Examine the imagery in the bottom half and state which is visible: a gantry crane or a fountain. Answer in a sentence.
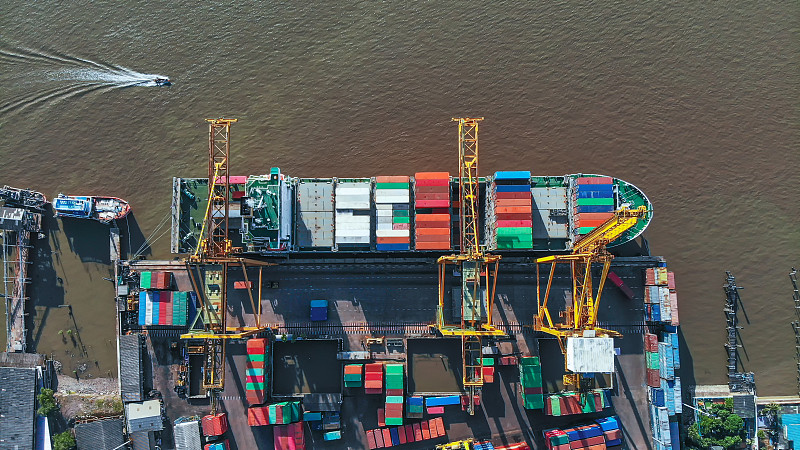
The one visible in the bottom half is a gantry crane.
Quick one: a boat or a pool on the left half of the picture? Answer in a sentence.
Visible on the left half of the picture is a boat.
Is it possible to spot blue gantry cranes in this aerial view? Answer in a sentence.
No, there is no blue gantry crane in the image.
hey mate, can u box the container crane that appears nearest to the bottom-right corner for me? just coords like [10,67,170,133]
[521,212,657,388]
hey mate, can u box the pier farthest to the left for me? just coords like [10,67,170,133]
[1,232,30,352]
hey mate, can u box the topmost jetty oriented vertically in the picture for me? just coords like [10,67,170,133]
[109,228,123,259]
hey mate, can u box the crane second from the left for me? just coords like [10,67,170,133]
[428,114,508,417]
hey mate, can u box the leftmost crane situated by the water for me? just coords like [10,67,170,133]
[181,114,279,417]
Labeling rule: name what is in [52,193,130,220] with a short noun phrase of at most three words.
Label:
boat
